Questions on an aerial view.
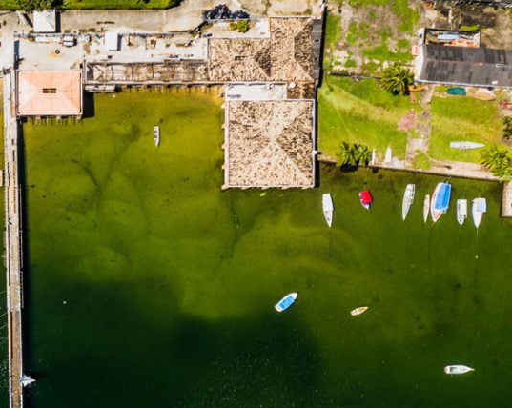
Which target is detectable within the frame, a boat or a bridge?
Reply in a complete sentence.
Visible in the photo is a boat.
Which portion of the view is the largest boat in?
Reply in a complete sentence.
The largest boat is located in the right region of the scene.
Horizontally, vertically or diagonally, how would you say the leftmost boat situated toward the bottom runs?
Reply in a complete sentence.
The leftmost boat situated toward the bottom runs diagonally in the image.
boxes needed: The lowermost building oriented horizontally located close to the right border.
[412,45,512,91]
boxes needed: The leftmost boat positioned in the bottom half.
[274,292,298,313]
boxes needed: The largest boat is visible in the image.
[432,181,454,222]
